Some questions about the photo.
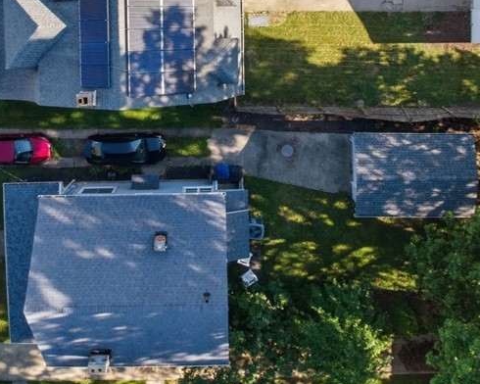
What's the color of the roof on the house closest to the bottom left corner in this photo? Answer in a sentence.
From above, the roof of the house closest to the bottom left corner looks blue.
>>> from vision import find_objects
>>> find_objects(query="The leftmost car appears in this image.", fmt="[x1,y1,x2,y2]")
[0,131,54,169]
